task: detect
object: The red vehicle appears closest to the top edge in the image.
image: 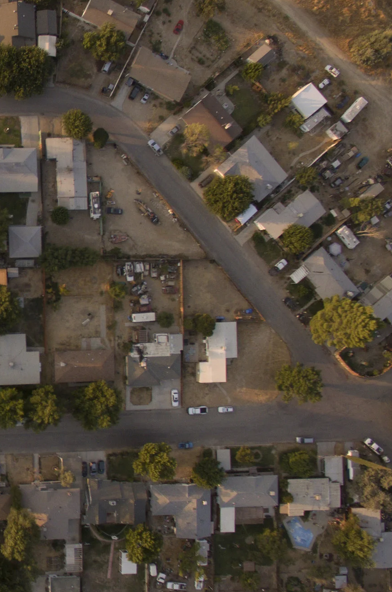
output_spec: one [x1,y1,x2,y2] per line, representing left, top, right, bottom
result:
[172,19,184,36]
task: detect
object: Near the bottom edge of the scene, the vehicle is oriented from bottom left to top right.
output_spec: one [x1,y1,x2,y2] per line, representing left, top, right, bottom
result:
[153,569,168,585]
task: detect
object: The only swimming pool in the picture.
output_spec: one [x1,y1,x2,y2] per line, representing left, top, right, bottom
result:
[285,516,316,550]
